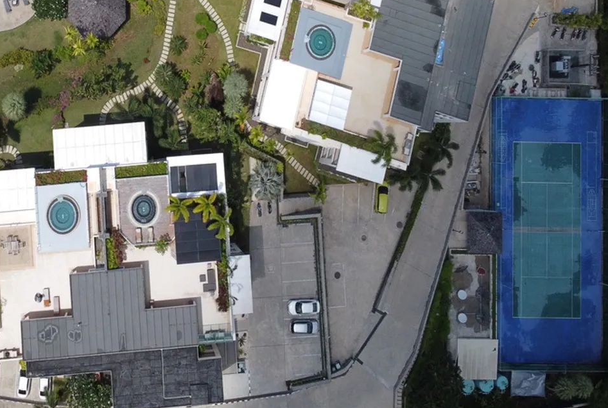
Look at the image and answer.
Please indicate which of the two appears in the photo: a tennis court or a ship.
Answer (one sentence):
The image shows a tennis court.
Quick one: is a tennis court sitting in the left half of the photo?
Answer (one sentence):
No, there's no tennis court to be seen in the left half of the photo.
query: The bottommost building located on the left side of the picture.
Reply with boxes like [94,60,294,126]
[0,122,253,408]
